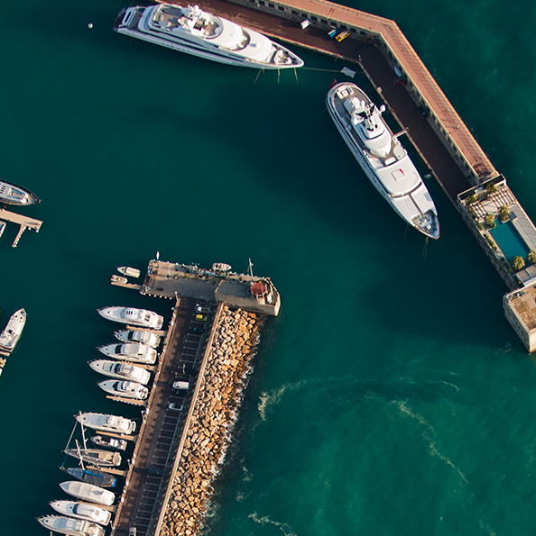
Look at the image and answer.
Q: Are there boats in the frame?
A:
Yes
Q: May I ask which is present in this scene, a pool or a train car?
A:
pool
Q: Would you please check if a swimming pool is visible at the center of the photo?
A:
No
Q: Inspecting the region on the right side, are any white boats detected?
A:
Yes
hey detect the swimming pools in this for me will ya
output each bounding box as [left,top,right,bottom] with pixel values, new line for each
[490,220,531,269]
